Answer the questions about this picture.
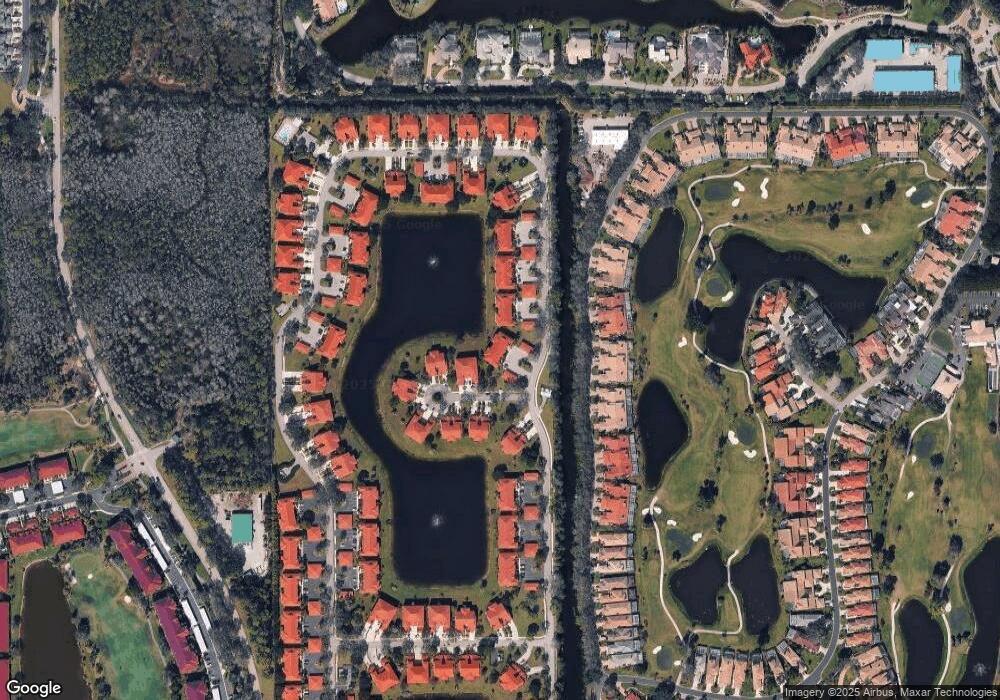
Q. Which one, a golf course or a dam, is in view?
golf course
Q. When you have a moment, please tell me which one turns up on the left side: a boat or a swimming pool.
swimming pool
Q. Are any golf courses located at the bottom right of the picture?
Yes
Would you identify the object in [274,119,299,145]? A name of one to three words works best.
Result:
swimming pool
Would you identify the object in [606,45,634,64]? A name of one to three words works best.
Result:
house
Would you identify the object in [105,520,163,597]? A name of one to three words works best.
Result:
building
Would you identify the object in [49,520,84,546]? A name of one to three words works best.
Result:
building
